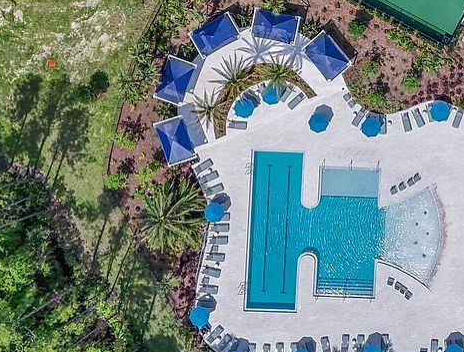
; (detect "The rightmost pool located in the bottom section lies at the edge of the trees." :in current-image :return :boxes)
[237,150,446,312]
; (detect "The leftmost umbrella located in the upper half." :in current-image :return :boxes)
[234,97,256,117]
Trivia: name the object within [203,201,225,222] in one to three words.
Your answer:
umbrella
